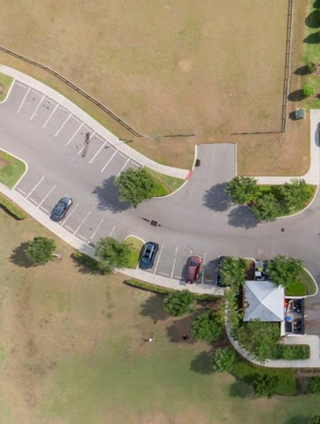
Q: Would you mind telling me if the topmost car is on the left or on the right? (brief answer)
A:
left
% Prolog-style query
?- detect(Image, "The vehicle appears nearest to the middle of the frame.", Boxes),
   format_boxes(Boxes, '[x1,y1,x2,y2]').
[141,242,157,268]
